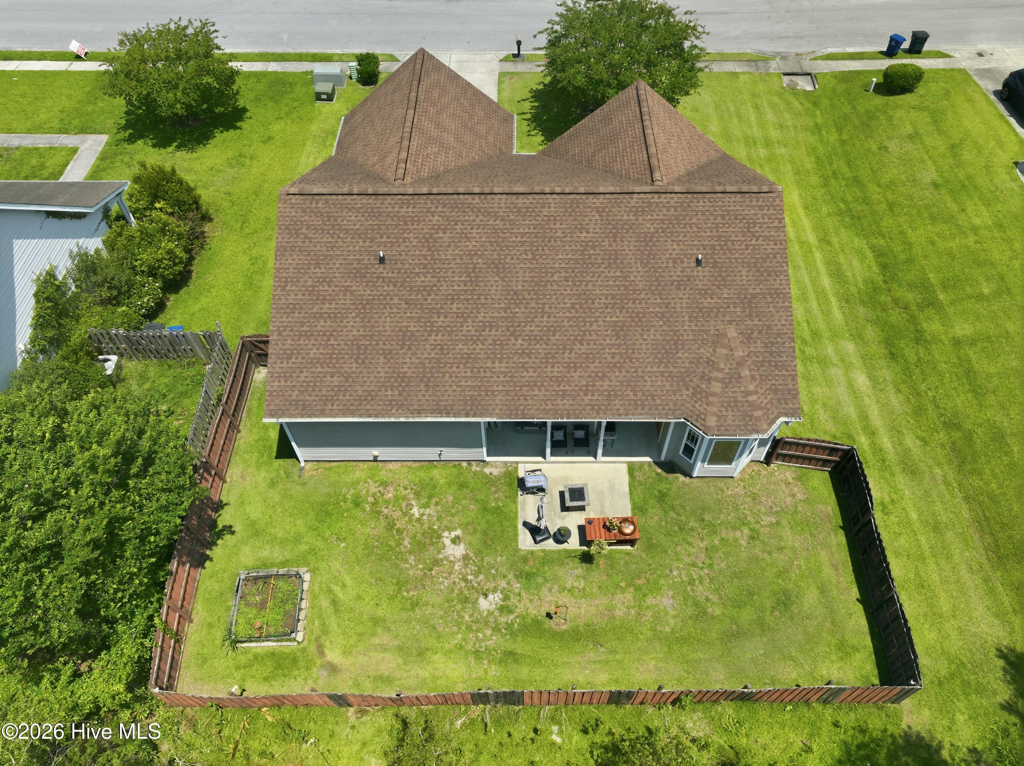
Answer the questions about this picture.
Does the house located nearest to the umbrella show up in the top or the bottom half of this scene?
top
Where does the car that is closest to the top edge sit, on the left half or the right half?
right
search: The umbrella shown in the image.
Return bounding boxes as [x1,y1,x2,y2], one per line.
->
[529,498,554,546]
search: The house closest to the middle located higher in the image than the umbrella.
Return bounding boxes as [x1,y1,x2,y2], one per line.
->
[262,44,801,477]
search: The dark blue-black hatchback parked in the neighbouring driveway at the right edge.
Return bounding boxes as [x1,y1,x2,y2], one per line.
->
[1002,67,1024,112]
